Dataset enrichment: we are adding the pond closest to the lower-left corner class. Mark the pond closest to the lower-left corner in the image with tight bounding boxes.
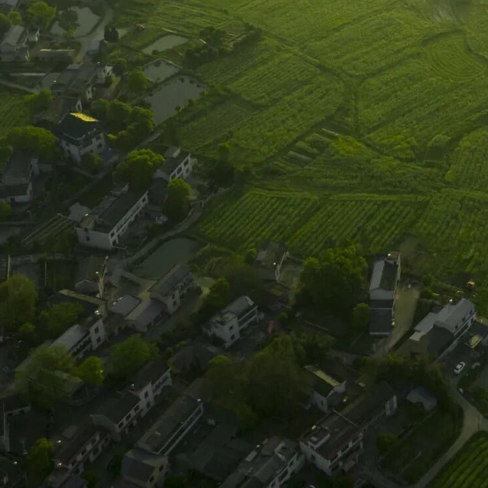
[132,238,203,278]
